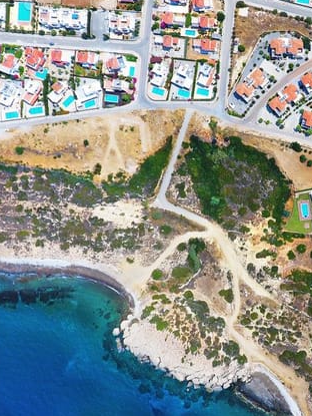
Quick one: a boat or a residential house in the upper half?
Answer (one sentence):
You can see a residential house in the upper half.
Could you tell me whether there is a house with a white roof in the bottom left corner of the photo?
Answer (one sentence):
No, no house with a white roof appears in the bottom left corner of the photo.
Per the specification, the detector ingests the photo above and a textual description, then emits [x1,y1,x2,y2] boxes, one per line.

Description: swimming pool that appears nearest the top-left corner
[18,2,31,22]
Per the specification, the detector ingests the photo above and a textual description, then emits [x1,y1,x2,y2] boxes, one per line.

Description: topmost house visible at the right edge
[270,37,305,59]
